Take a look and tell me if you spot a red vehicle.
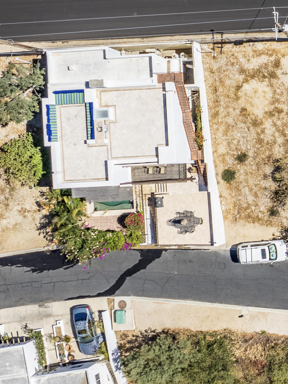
No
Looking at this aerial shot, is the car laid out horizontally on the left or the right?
right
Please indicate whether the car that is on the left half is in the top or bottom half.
bottom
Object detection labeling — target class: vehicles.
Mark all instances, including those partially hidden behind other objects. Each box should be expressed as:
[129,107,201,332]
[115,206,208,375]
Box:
[74,305,102,354]
[237,239,288,263]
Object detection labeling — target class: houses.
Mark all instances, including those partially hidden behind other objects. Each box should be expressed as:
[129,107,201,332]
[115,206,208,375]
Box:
[41,47,208,203]
[0,319,118,384]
